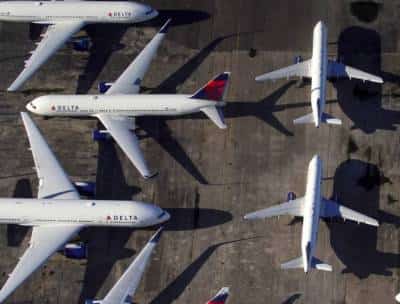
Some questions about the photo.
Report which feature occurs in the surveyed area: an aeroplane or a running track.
aeroplane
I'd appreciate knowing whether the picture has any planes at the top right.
Yes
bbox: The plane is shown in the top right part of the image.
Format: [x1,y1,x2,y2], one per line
[255,21,382,127]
